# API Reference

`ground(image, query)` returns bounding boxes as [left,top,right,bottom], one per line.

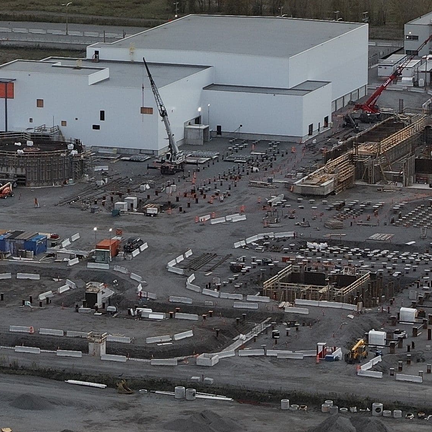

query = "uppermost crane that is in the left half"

[141,56,201,173]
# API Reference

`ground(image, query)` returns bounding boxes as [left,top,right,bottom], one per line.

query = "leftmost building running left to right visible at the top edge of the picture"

[0,14,369,156]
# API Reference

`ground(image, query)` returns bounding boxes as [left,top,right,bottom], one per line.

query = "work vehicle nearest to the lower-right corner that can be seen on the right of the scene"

[325,337,374,364]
